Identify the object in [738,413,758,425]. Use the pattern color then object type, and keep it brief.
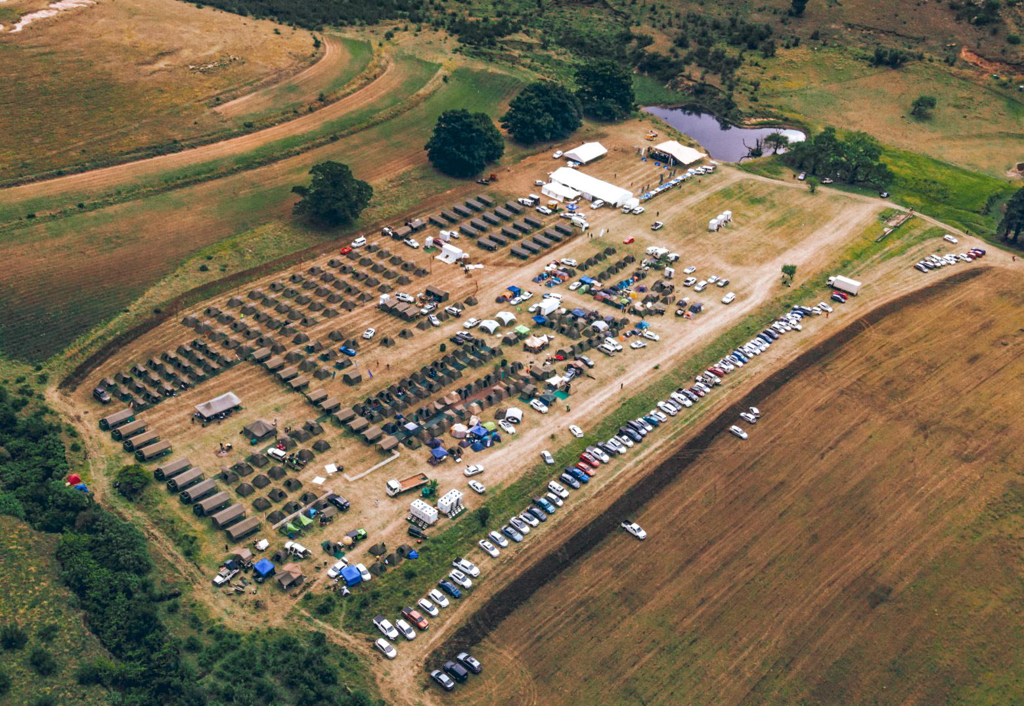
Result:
gray vehicle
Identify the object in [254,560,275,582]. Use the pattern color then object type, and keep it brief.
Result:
blue gazebo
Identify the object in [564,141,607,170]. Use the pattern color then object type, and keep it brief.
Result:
white tent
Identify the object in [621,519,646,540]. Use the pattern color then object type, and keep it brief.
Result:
white truck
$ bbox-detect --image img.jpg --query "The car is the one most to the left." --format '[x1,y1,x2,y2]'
[94,387,110,403]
